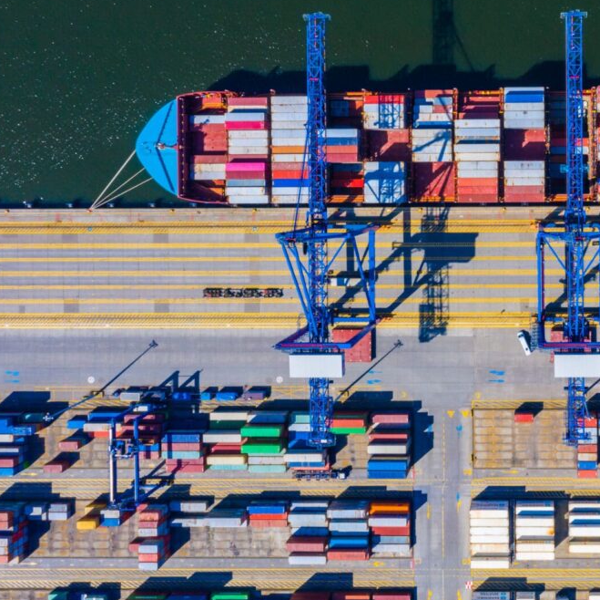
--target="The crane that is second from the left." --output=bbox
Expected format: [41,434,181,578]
[269,6,395,446]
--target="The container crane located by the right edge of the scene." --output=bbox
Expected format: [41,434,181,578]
[526,6,600,446]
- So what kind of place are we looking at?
port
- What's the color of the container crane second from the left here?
blue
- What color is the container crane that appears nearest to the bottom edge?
blue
